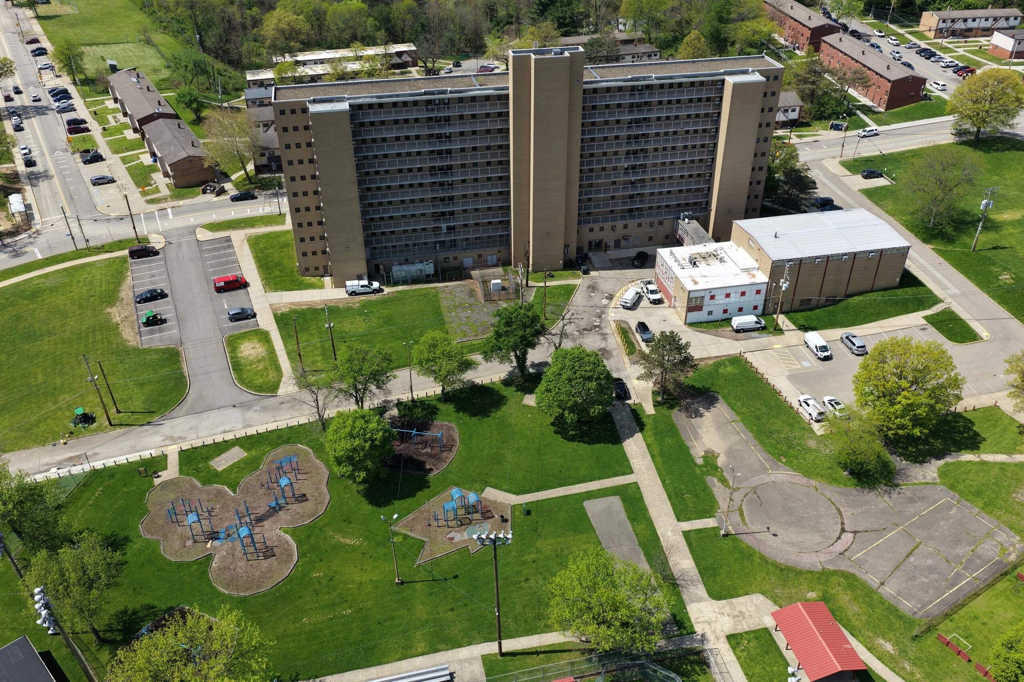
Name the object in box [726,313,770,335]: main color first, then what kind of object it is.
white vehicle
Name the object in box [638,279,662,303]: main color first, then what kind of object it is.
white truck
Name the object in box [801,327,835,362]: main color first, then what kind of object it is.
white van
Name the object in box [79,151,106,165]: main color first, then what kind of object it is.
black car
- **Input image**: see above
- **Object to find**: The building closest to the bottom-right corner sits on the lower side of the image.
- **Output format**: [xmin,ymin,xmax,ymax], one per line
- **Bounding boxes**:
[771,598,875,682]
